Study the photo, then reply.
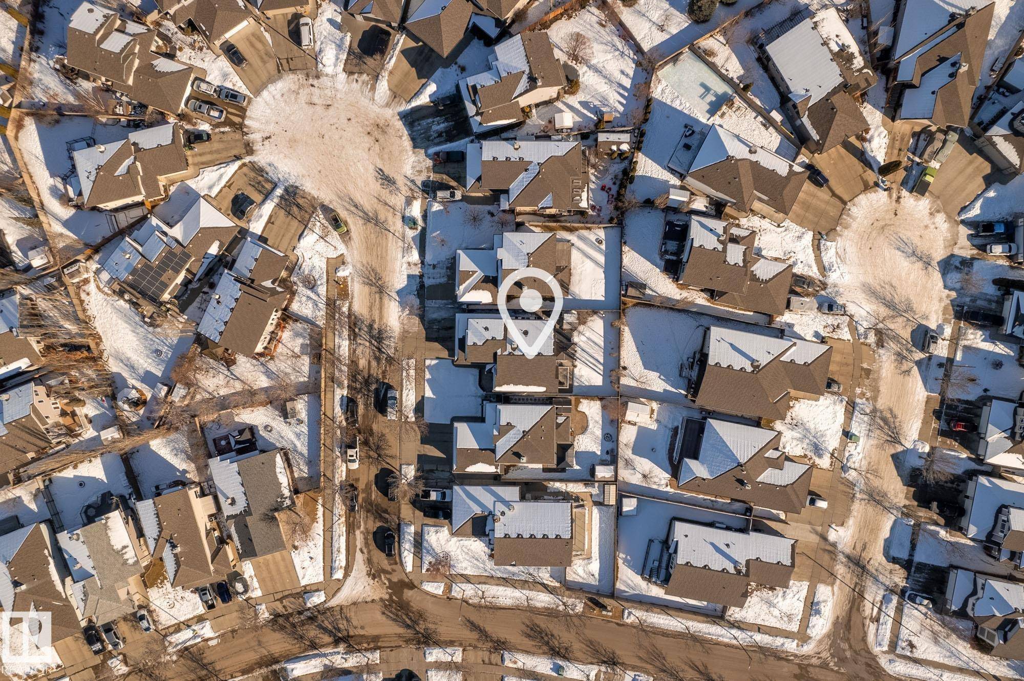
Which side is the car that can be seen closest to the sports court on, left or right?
right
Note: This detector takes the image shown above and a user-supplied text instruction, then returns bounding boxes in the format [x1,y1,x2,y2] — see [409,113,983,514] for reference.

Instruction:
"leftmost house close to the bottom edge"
[0,521,89,652]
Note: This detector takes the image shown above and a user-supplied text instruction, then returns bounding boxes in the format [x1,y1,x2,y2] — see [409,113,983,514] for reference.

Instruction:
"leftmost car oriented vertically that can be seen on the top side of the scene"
[296,15,314,49]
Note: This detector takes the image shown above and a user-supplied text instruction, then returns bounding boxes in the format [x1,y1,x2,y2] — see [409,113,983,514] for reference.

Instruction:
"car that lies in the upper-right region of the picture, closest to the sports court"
[807,163,831,187]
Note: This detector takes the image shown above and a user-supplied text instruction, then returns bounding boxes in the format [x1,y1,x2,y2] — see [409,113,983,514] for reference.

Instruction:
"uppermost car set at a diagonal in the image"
[225,41,249,68]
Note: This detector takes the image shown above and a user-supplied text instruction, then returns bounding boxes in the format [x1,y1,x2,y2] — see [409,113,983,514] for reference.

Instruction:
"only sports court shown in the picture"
[657,49,734,122]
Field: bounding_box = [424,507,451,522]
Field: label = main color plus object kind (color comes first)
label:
black vehicle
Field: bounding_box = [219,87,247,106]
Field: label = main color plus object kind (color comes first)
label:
gray car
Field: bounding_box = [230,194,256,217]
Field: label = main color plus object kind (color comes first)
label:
black car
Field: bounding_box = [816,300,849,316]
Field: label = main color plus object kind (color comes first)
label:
gray vehicle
